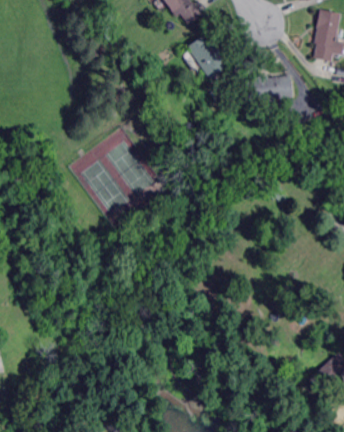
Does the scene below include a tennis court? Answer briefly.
Yes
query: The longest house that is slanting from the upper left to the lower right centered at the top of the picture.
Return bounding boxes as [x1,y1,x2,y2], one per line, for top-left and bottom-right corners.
[189,38,222,76]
